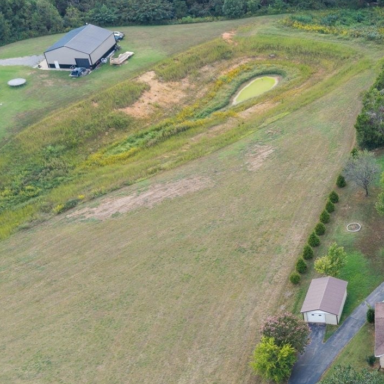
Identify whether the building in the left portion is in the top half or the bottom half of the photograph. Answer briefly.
top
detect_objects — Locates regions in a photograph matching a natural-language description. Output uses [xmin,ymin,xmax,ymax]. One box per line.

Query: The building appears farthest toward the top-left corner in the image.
[44,23,116,70]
